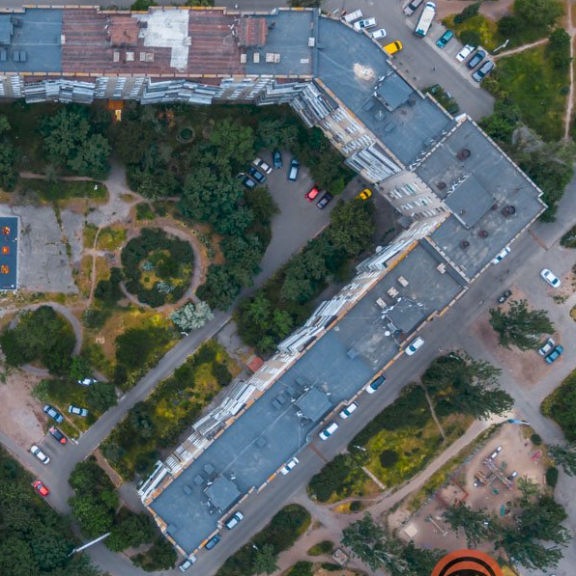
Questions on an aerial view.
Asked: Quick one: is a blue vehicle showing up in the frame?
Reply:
Yes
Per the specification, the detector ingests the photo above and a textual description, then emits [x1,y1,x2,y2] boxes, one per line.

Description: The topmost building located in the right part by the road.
[292,10,455,182]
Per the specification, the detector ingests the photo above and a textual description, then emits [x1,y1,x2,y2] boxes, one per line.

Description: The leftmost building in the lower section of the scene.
[136,215,467,557]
